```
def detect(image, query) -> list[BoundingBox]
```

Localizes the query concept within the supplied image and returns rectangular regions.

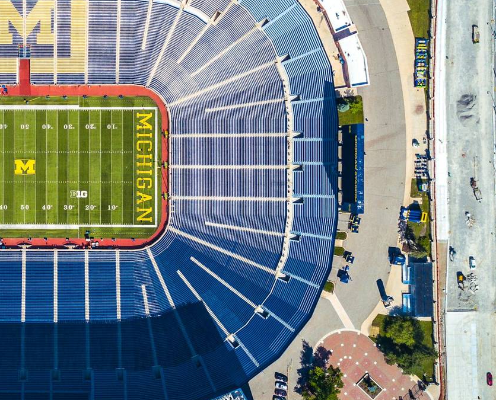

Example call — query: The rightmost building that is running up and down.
[411,261,433,317]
